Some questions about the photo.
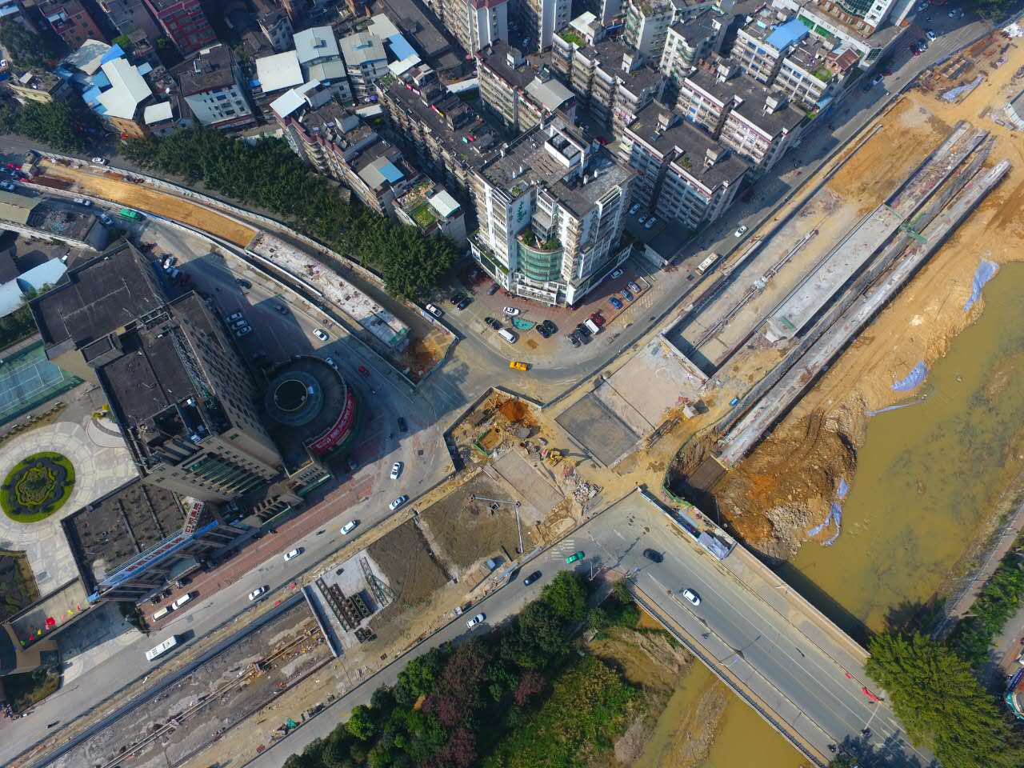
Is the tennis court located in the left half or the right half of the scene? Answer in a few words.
left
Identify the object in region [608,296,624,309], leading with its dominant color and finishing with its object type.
blue vehicle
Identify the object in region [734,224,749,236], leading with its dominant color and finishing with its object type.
white vehicle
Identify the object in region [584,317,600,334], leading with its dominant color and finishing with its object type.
white vehicle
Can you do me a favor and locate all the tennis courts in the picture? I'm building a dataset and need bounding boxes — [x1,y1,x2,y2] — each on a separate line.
[0,339,82,422]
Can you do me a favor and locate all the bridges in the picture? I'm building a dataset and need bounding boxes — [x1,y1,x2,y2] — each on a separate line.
[631,534,1024,768]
